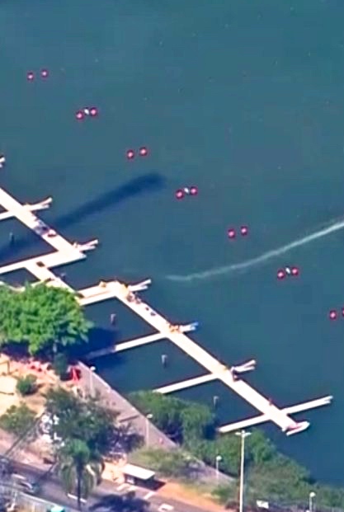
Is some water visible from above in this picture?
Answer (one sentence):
Yes, the picture does contain water.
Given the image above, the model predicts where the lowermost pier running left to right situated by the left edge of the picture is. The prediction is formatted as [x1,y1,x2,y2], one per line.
[0,249,87,272]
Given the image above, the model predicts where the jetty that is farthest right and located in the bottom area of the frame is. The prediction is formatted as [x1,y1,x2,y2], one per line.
[287,396,334,415]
